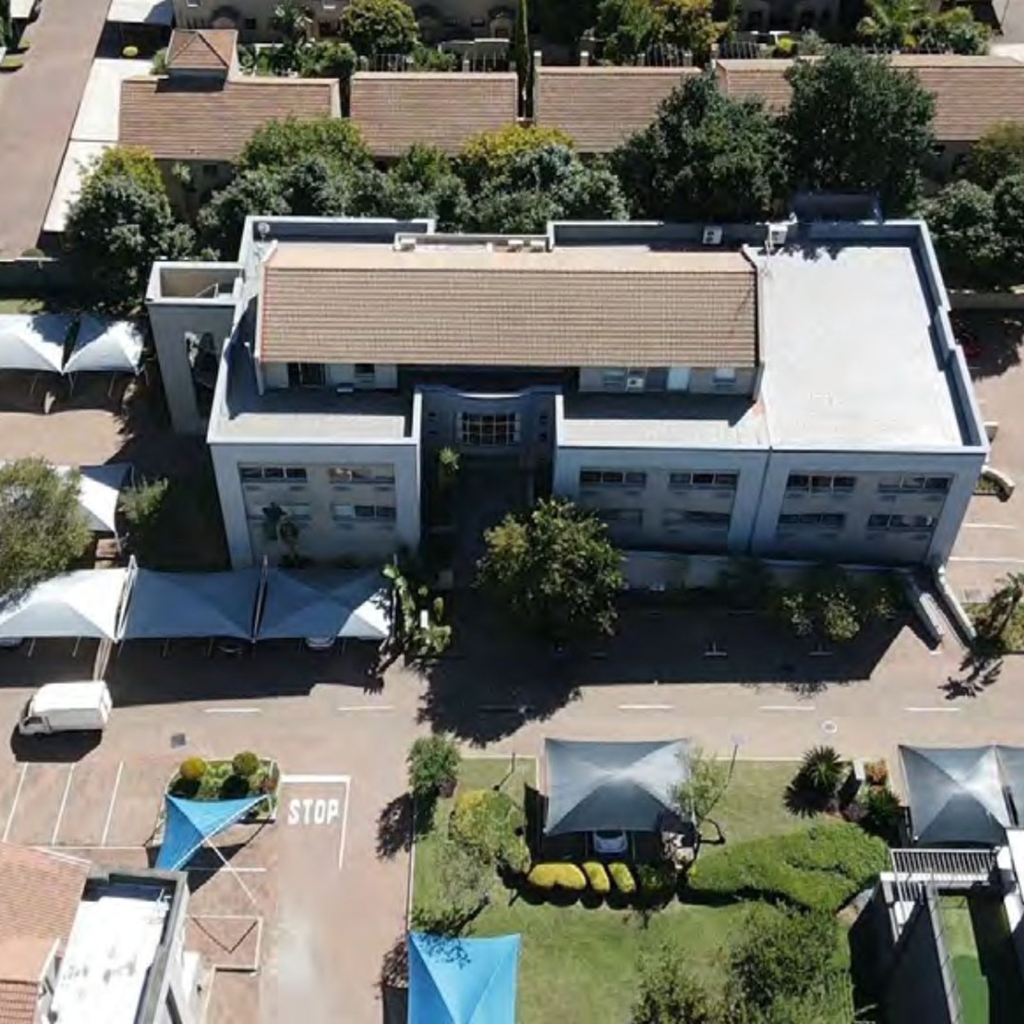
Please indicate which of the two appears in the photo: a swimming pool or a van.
van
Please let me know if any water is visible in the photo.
No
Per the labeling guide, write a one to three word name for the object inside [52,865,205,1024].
building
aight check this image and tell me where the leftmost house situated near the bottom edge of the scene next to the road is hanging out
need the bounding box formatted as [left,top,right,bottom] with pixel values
[0,842,93,1024]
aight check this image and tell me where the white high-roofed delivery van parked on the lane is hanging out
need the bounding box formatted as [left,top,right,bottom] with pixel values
[17,676,112,731]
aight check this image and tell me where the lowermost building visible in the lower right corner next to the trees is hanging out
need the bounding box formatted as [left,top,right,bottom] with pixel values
[861,831,1024,1024]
